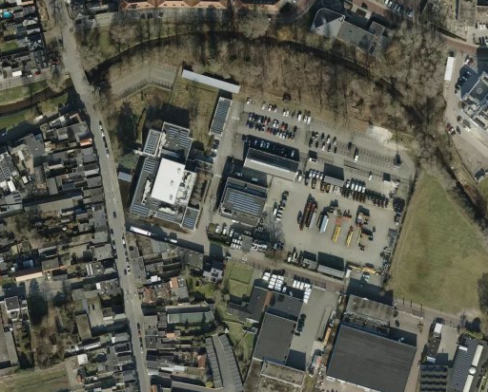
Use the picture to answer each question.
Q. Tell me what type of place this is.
residential area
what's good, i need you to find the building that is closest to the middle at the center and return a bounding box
[219,177,268,226]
